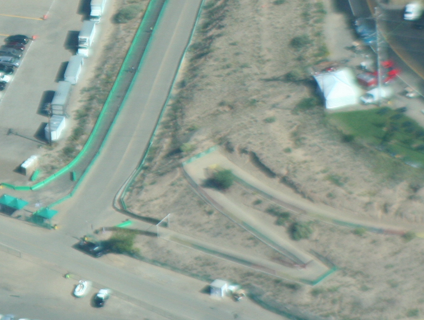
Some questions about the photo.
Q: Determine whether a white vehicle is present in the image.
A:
Yes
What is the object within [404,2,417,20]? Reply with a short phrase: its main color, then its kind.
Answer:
white vehicle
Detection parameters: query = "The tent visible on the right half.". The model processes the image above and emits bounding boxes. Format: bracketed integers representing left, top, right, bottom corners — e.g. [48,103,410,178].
[315,70,360,118]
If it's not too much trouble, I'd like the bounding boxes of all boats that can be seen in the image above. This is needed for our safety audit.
[74,277,89,300]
